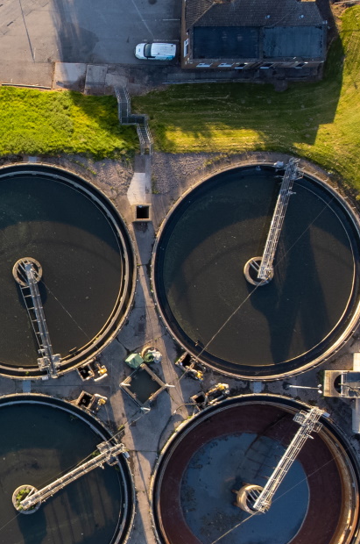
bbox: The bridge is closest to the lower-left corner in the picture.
[14,440,133,514]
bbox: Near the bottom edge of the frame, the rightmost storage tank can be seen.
[150,393,360,544]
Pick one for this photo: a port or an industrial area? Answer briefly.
industrial area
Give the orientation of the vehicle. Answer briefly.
from side to side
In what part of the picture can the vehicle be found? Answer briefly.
top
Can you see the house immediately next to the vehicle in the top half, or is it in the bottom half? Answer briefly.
top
